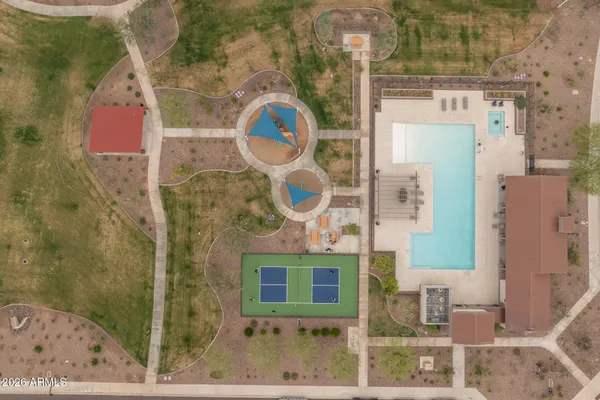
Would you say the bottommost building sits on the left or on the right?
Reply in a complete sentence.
The bottommost building sits on the right side.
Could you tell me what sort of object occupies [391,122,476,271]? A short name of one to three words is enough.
swimming pool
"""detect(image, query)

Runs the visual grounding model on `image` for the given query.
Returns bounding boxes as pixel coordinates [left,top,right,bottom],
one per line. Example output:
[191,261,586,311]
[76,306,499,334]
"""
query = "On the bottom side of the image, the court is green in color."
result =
[241,253,359,317]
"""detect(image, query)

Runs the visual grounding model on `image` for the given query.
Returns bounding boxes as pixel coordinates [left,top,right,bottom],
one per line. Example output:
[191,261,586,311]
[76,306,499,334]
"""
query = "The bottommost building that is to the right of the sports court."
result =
[452,305,504,346]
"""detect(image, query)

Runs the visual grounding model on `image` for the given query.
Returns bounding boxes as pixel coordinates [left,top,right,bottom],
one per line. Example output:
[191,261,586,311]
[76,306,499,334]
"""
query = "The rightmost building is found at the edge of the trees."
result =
[500,176,574,331]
